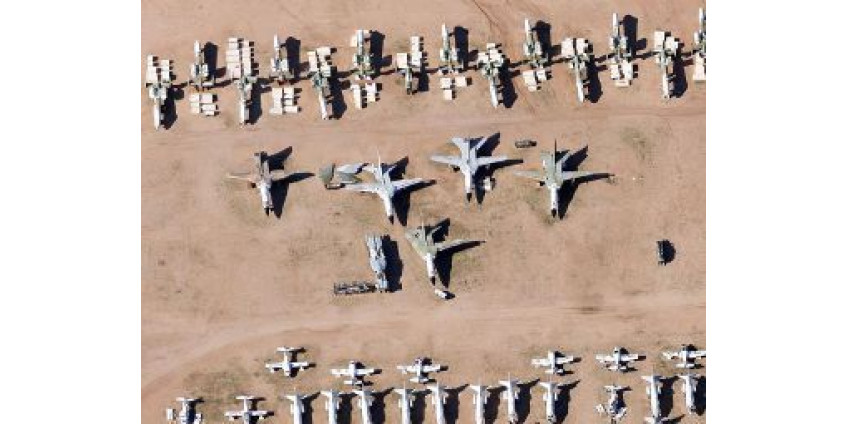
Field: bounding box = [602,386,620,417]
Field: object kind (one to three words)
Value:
airplane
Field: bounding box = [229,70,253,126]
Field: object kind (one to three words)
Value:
airplane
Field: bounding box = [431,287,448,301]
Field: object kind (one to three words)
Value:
vehicle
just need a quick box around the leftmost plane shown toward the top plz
[143,74,167,130]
